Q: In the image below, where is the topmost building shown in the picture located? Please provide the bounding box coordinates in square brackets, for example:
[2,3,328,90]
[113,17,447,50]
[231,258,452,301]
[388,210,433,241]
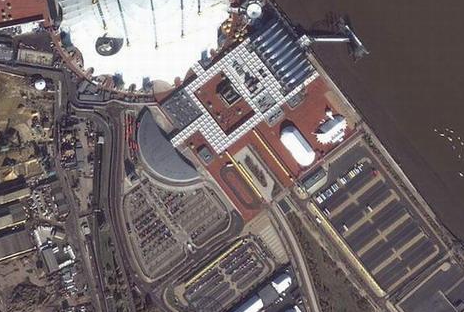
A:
[243,2,263,23]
